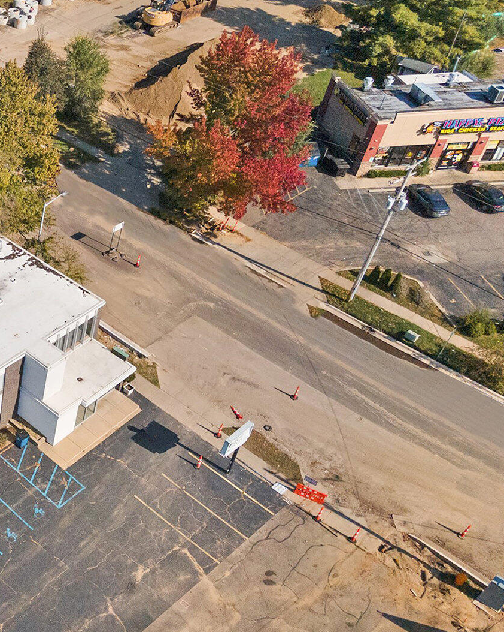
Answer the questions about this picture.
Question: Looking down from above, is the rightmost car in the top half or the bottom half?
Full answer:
The top half of the photo is where the rightmost car is.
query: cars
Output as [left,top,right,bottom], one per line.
[460,182,504,211]
[413,184,453,213]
